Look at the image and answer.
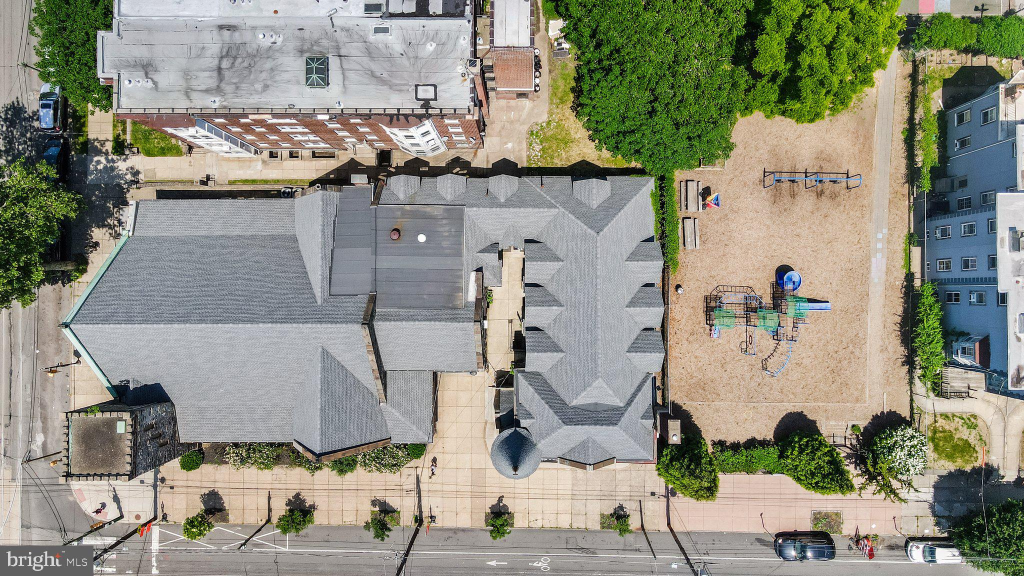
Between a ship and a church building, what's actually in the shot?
church building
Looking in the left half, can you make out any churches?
Yes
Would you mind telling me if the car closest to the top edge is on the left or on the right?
left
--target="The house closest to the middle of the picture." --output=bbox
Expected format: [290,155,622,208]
[385,172,682,476]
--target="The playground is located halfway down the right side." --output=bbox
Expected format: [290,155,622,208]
[668,45,915,445]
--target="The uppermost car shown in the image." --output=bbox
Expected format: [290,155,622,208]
[36,84,70,138]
